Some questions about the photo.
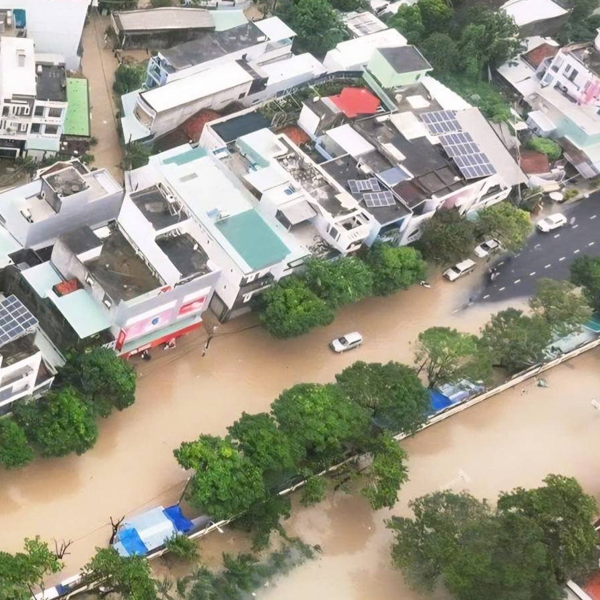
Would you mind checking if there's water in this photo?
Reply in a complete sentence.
Yes, the picture does contain water.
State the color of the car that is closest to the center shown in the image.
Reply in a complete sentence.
In this view, the car that is closest to the center is white.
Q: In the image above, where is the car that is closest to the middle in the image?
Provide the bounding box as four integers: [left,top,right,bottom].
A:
[330,329,366,352]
